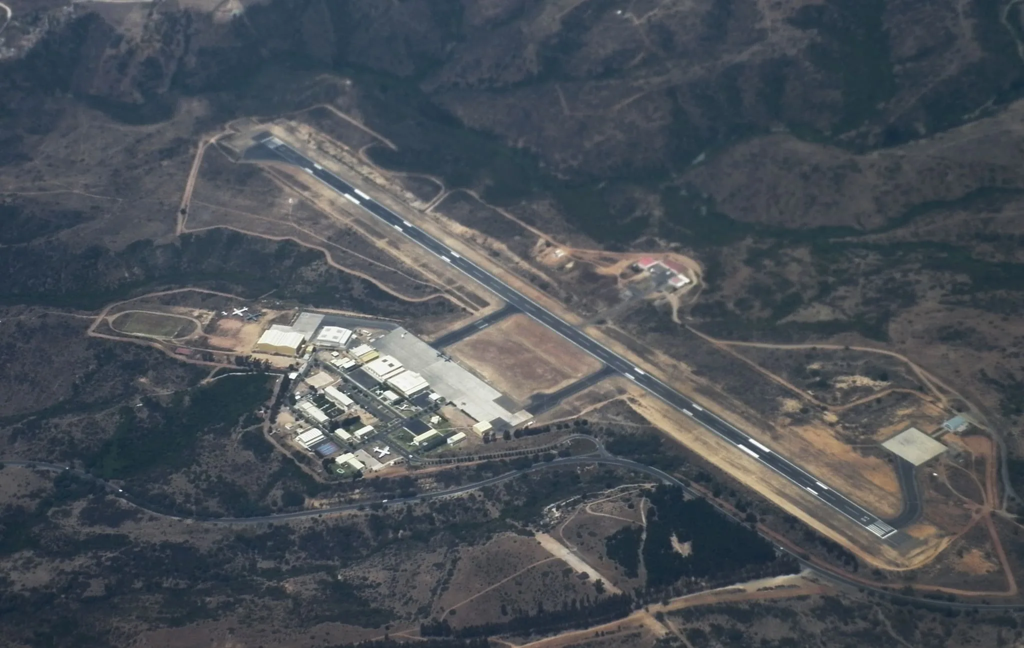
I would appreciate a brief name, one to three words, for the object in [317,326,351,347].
hangar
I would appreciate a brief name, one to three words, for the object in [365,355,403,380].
hangar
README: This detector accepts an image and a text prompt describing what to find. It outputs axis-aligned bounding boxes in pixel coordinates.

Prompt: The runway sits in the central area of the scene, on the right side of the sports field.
[261,137,896,538]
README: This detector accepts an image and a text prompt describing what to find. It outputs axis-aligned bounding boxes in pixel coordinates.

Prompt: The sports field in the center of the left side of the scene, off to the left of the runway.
[122,312,197,338]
